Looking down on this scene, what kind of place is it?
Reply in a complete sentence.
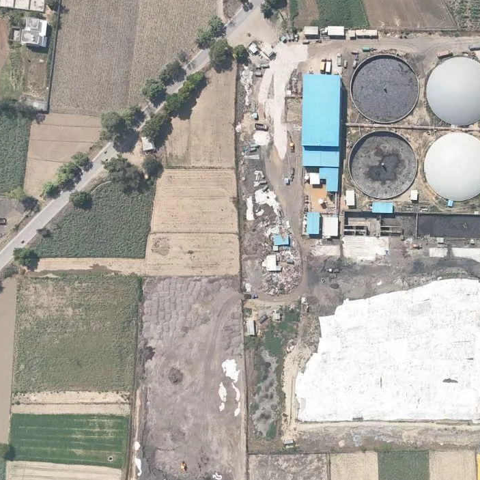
It's an industrial area.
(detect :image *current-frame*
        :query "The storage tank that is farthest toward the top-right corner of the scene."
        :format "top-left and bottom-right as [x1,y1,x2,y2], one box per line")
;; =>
[426,55,480,125]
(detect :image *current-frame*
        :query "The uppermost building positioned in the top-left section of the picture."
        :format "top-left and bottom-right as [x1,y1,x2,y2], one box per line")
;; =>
[21,17,52,49]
